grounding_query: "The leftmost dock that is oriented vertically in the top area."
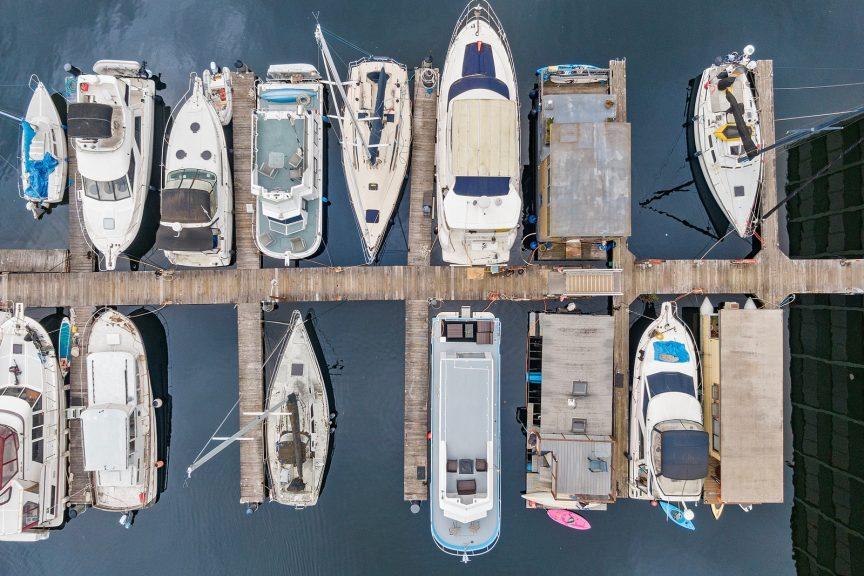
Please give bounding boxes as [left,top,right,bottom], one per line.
[69,137,96,272]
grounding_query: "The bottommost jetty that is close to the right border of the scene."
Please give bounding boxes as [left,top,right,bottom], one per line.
[633,260,864,295]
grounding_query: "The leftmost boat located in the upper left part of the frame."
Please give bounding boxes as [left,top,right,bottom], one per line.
[0,75,70,218]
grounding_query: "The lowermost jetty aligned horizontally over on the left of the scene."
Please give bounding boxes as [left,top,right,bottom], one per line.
[0,264,606,307]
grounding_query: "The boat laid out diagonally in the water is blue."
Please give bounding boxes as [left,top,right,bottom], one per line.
[660,503,696,531]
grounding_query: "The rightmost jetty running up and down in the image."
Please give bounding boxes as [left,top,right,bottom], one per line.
[754,61,778,261]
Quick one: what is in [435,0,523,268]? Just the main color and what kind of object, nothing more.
white boat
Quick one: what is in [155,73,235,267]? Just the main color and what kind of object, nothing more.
white boat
